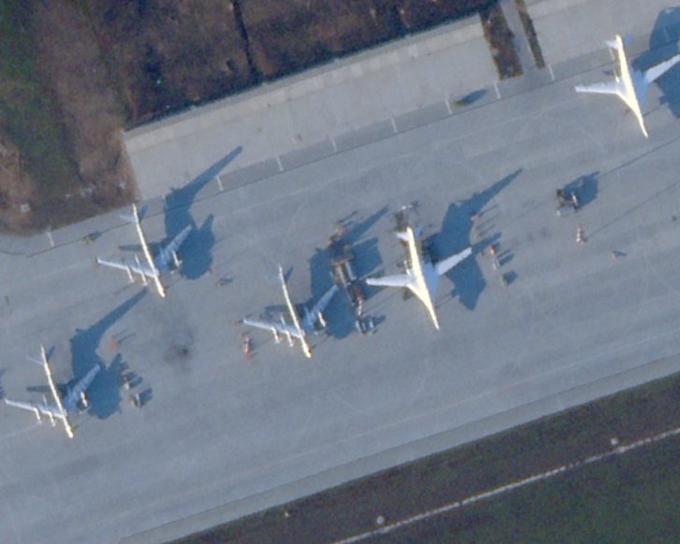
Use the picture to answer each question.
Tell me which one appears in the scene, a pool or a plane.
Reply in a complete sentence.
This aerial view contains a plane.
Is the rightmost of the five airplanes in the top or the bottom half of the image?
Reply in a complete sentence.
The rightmost of the five airplanes sits in the top half of the picture.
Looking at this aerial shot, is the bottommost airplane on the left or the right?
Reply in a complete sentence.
It is on the left.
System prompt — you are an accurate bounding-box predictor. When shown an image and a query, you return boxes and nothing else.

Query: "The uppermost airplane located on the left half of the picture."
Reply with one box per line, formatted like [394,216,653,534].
[100,207,194,297]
